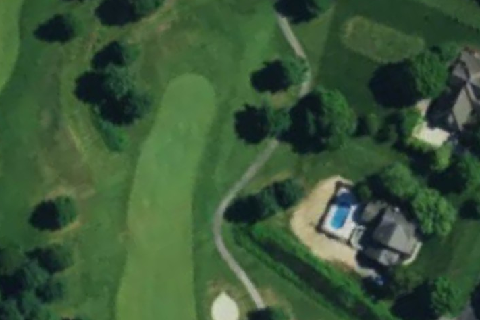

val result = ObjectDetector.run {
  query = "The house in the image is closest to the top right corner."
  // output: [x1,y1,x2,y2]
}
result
[436,42,480,135]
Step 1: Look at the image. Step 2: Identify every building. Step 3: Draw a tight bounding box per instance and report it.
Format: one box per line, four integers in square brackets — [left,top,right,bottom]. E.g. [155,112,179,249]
[436,42,480,135]
[358,201,421,269]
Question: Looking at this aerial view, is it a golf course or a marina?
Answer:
golf course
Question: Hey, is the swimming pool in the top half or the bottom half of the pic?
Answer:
bottom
